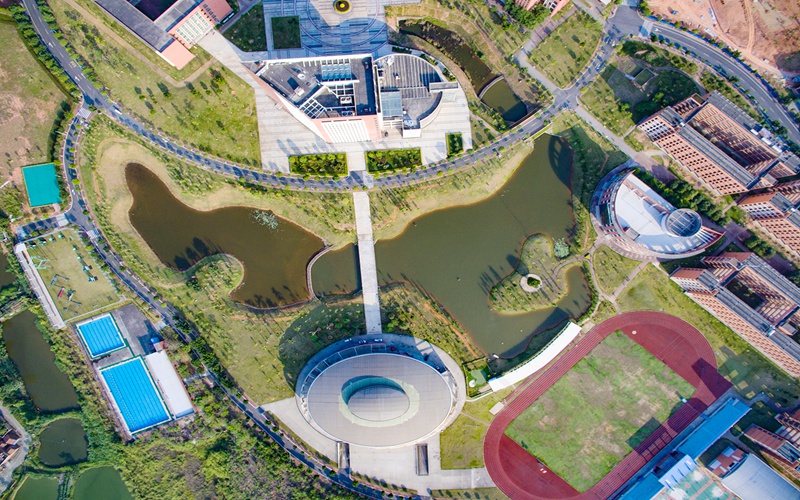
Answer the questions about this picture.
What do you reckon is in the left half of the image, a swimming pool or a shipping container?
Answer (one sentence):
Visible in the left half of the image is a swimming pool.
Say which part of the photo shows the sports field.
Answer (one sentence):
Look in the bottom right portion of the view to spot the sports field.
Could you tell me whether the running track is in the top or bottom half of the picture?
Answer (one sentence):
The bottom half of the photo is where the running track is.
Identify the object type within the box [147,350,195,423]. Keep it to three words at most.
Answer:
shed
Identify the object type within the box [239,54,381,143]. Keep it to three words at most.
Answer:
building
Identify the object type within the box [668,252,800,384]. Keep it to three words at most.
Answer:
building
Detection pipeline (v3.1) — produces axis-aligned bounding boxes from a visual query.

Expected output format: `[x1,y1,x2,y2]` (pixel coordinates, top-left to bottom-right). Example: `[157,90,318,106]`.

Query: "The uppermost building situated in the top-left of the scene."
[91,0,245,69]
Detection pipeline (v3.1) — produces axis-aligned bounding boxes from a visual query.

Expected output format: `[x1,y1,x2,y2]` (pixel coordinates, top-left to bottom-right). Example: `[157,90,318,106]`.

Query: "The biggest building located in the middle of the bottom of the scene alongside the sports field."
[295,333,466,450]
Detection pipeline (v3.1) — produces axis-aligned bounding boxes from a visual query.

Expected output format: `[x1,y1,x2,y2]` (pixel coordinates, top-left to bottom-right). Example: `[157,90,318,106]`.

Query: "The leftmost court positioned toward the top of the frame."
[20,162,62,207]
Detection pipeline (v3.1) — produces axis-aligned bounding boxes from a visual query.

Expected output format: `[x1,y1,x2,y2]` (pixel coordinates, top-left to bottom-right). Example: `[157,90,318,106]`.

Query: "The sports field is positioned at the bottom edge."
[504,330,695,492]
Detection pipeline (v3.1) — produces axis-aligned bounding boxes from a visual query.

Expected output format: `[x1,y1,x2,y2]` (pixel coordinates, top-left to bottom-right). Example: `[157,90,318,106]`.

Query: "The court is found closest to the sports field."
[650,459,741,500]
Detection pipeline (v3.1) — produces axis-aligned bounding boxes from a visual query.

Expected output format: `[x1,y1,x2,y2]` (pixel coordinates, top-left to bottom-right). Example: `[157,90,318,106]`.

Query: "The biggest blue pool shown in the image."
[97,356,173,435]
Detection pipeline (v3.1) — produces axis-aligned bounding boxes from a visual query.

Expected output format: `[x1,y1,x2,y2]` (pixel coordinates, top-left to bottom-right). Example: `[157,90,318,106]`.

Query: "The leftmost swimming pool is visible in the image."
[74,311,127,359]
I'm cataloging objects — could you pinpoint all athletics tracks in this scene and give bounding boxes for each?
[482,309,732,500]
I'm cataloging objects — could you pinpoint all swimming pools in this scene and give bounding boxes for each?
[74,311,127,359]
[97,356,173,435]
